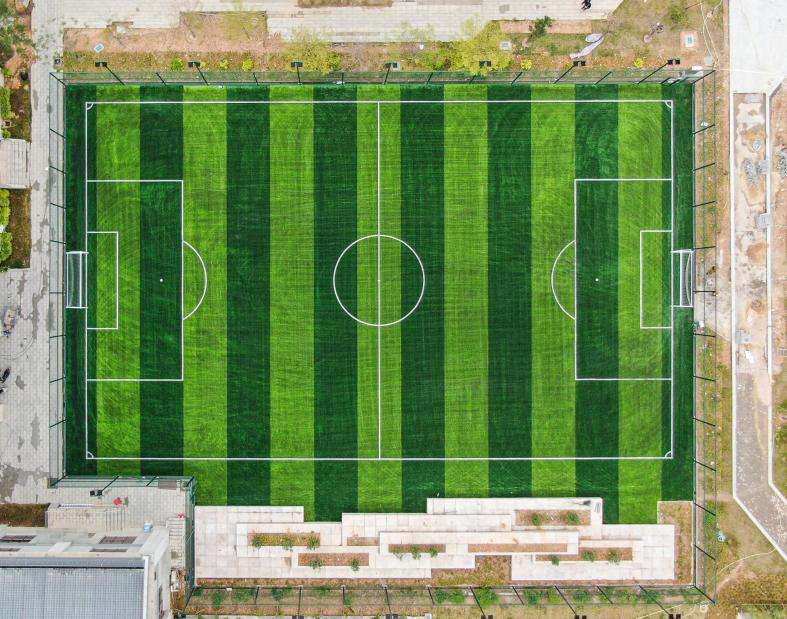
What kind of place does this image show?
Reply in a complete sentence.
The area seen from above is a sports ground.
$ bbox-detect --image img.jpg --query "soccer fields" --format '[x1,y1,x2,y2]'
[66,84,693,524]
